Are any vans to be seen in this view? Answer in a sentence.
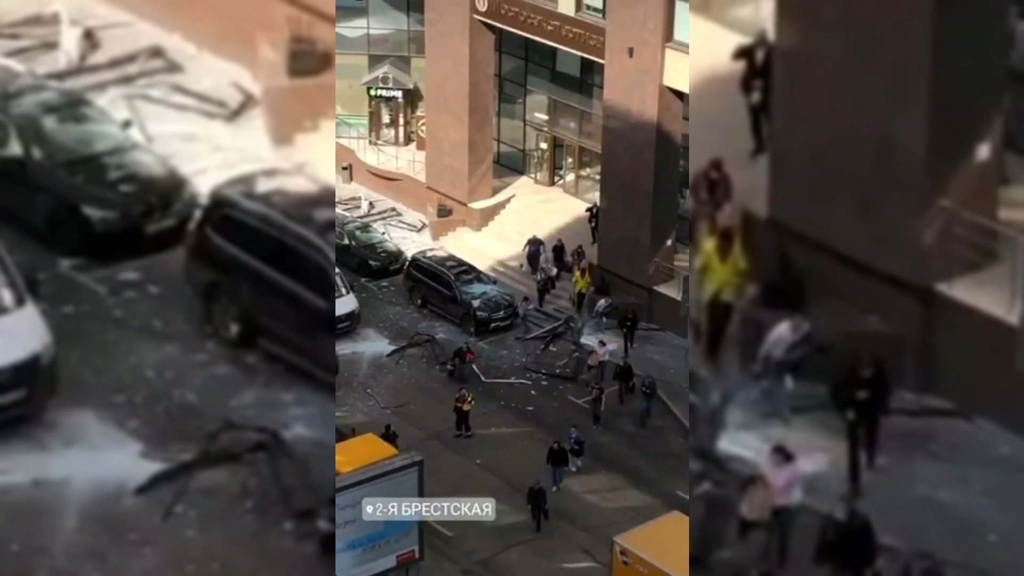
Yes, the picture does show a van.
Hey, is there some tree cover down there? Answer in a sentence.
No, the picture contains no tree cover.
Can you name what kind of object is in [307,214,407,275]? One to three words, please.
car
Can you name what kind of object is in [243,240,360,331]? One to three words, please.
van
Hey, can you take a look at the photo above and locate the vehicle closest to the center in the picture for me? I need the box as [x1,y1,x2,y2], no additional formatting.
[398,248,518,334]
